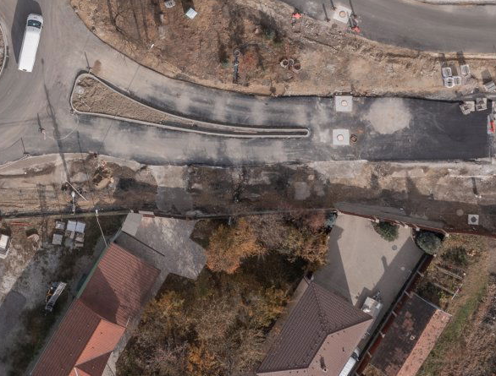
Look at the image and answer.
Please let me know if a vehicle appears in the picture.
Yes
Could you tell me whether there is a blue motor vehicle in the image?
No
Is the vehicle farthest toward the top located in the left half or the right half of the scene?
left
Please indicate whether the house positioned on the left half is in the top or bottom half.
bottom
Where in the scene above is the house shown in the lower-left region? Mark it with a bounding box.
[32,242,161,376]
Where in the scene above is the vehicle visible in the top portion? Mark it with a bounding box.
[17,12,45,73]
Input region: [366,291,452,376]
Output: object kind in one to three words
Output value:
shed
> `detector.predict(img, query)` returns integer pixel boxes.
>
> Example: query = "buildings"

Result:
[256,281,373,376]
[366,291,452,376]
[32,242,161,376]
